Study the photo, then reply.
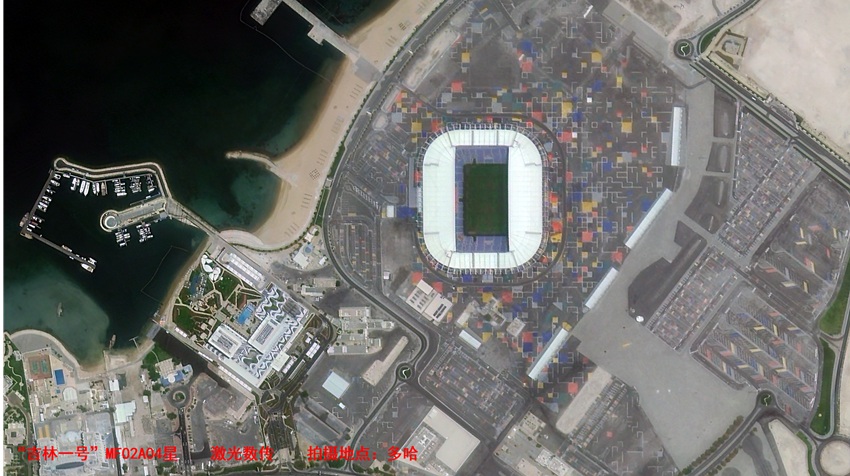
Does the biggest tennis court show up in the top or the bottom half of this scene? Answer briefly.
bottom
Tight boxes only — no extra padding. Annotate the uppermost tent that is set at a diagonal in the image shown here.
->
[625,188,672,248]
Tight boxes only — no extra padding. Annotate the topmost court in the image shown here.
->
[29,355,51,380]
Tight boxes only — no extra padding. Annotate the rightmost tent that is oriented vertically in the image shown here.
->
[672,107,685,166]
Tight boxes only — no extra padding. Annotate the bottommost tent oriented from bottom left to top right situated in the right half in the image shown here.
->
[529,328,569,380]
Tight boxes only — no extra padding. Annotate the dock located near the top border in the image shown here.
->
[251,0,362,60]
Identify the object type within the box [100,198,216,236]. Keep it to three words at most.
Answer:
pier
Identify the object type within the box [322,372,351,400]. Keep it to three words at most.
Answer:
shed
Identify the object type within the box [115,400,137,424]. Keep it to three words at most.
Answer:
building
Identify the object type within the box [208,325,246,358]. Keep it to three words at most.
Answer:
building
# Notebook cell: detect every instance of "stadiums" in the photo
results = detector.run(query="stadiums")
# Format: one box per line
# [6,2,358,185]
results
[417,121,553,276]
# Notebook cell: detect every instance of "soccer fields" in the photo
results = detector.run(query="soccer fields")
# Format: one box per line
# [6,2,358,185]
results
[463,160,509,239]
